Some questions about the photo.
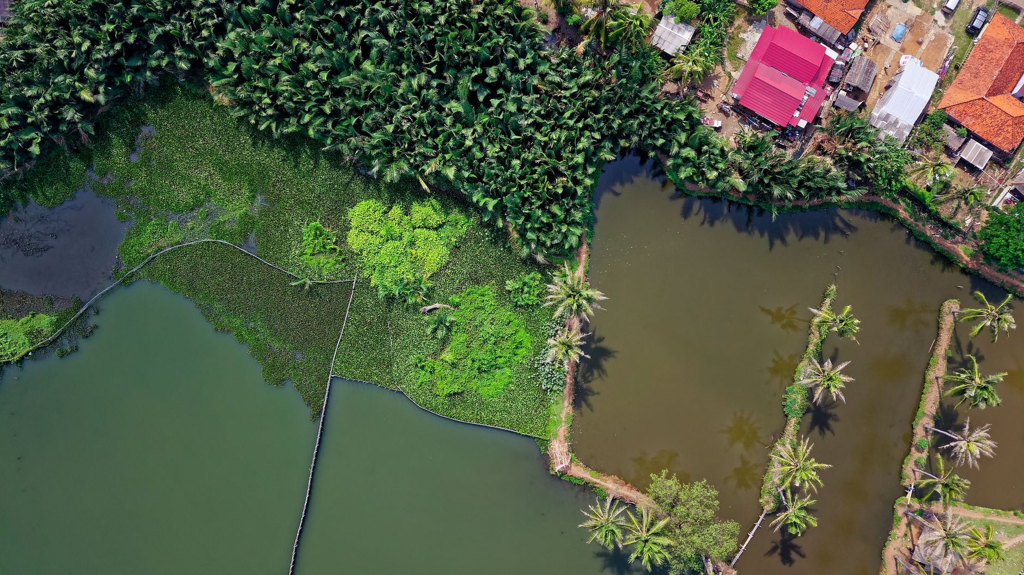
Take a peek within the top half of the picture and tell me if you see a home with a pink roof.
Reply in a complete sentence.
Yes, a home with a pink roof shows up within the top half of the picture.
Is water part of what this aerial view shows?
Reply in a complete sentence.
Yes, there's water in this view.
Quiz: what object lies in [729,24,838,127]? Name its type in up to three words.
house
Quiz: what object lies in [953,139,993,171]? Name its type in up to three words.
shed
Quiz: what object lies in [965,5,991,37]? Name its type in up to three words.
car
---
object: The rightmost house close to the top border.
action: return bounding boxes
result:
[937,11,1024,154]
